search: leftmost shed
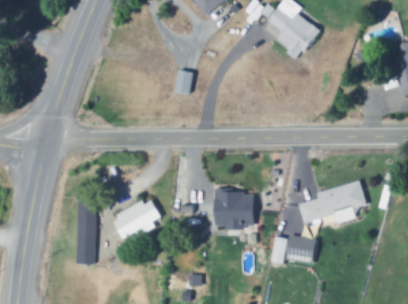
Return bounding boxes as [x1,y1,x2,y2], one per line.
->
[78,199,96,264]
